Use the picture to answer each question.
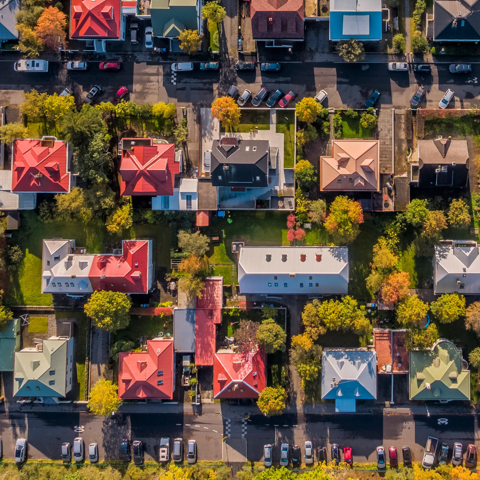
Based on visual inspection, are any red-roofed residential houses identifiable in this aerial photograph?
Yes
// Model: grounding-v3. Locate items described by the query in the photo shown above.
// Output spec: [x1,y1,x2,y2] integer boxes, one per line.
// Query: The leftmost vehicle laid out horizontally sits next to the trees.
[13,59,50,71]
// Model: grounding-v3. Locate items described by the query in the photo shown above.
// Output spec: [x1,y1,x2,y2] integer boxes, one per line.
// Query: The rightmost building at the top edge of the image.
[432,0,480,44]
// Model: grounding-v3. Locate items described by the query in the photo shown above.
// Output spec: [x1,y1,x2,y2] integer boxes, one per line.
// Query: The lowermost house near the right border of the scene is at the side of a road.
[409,333,470,403]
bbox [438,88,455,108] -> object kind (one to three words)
car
